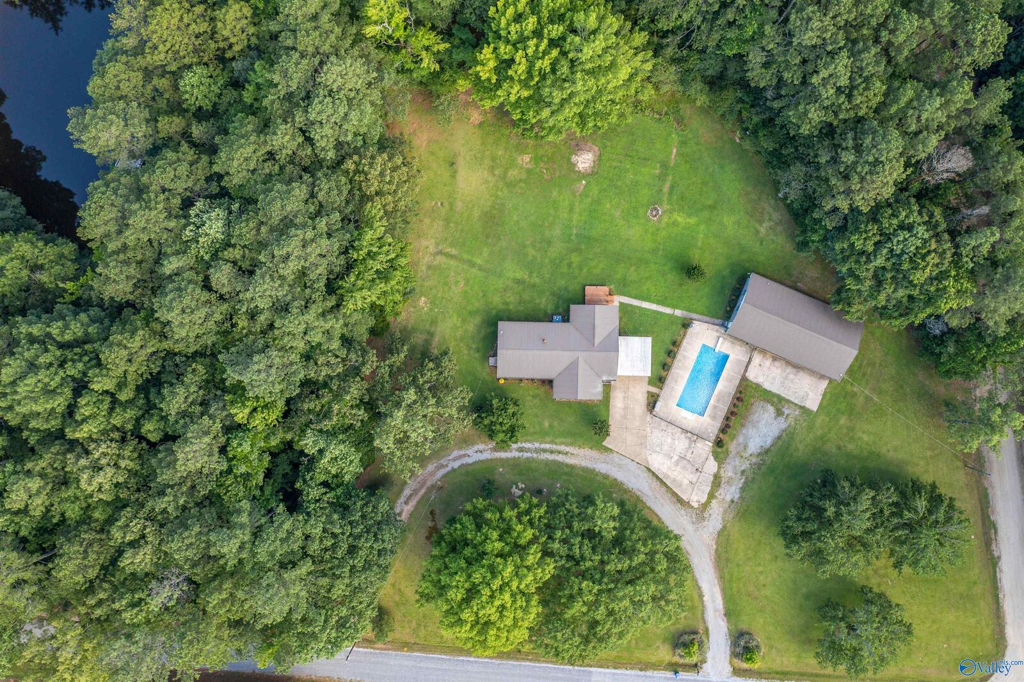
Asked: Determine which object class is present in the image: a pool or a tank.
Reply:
pool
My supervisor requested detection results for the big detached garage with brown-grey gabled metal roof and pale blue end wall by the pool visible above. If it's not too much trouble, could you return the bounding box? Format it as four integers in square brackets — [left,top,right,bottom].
[726,273,865,382]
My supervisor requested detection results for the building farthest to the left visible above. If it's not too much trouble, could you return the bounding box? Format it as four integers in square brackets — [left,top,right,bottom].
[498,304,620,400]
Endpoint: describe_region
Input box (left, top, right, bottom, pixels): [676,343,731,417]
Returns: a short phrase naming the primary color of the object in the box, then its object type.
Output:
blue swimming pool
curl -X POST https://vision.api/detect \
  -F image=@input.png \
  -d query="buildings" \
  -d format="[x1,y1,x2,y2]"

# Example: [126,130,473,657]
[498,304,620,400]
[726,273,865,382]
